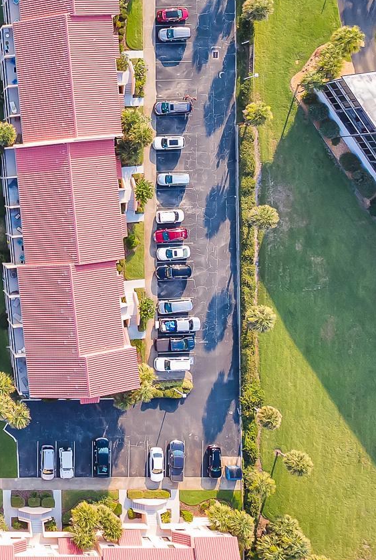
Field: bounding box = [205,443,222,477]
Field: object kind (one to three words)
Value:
car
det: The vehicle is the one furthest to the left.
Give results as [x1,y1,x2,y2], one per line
[39,443,56,479]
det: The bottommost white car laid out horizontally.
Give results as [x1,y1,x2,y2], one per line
[154,356,190,373]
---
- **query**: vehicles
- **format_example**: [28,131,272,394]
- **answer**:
[158,317,198,334]
[157,298,192,315]
[150,135,184,150]
[166,440,185,481]
[205,443,222,477]
[154,356,190,373]
[156,264,189,279]
[155,100,190,116]
[152,227,187,243]
[155,209,184,224]
[155,7,187,23]
[39,443,56,479]
[58,444,75,477]
[147,446,164,480]
[154,336,194,353]
[155,171,189,187]
[156,27,190,42]
[156,246,189,261]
